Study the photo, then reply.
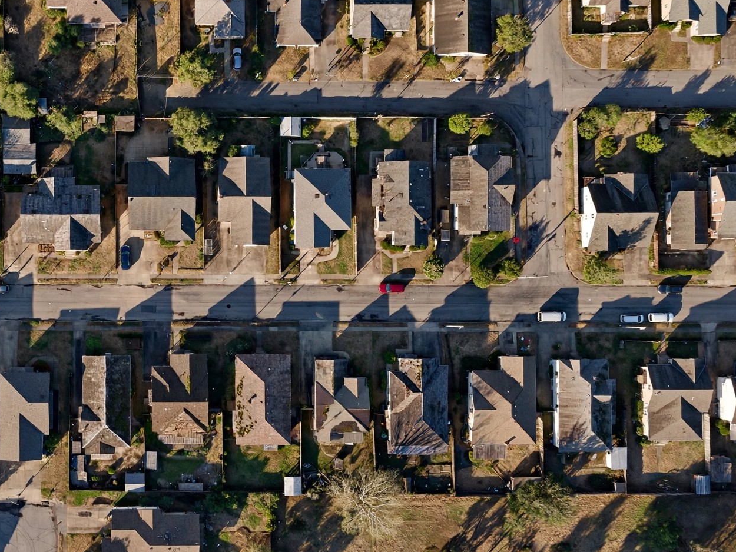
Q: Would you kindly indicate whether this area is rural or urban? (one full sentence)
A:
The area shown here is urban.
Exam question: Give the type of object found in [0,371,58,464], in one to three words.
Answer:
house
